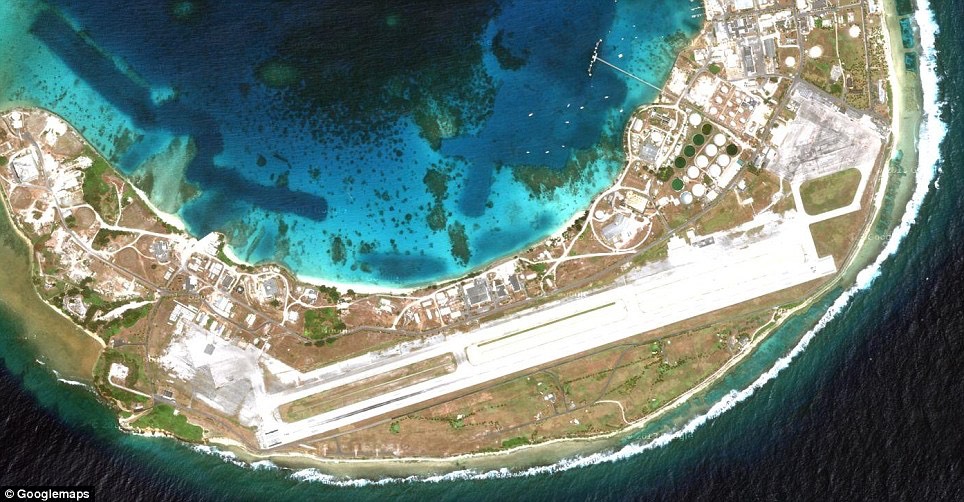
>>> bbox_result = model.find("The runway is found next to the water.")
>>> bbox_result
[256,255,837,449]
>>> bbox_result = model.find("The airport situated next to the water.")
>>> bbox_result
[159,83,883,449]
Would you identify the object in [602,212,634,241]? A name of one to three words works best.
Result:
building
